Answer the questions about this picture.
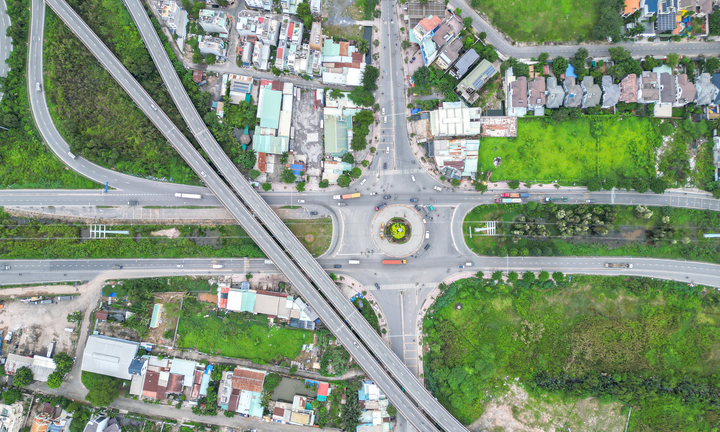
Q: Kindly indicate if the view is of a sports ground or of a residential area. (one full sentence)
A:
What you see here is a residential area.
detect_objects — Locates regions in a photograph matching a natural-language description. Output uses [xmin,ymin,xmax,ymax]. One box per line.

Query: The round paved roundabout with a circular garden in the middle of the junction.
[372,205,425,257]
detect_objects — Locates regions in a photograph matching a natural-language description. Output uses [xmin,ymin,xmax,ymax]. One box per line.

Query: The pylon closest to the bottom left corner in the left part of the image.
[90,224,131,238]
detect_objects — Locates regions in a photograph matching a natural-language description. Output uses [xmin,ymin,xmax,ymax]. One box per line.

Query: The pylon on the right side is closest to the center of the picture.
[473,221,496,235]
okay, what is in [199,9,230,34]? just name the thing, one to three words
house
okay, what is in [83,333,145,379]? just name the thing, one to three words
building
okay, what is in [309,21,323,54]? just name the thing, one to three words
house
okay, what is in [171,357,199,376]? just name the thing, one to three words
shed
